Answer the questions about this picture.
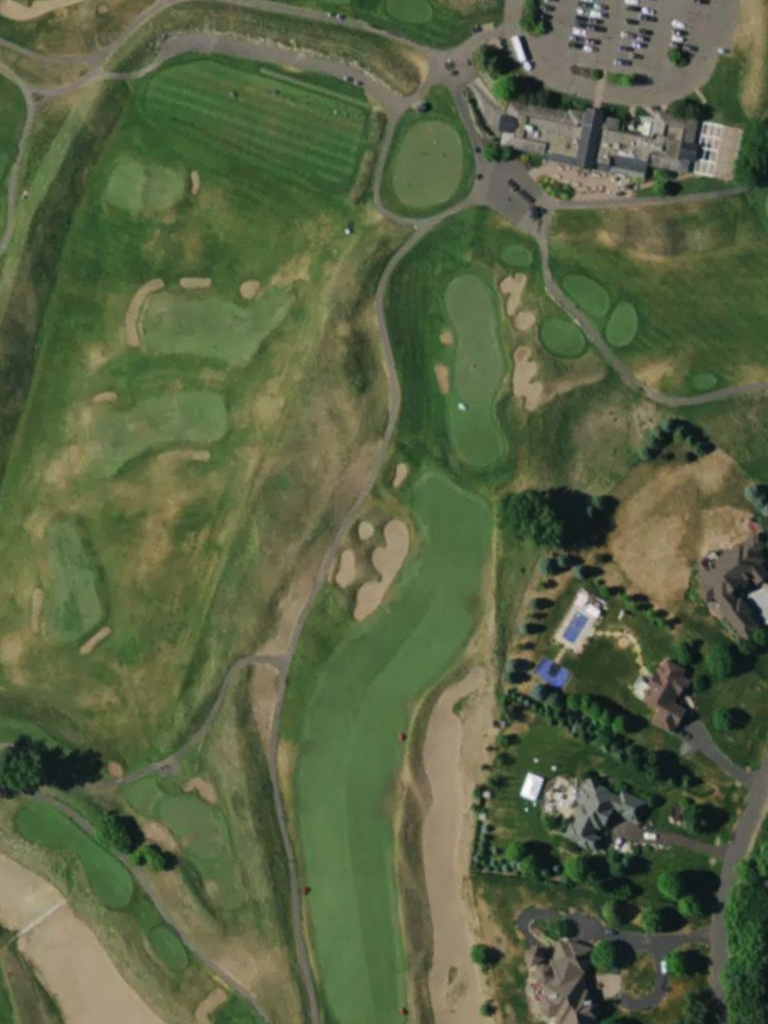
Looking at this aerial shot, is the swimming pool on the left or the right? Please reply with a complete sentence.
It is on the right.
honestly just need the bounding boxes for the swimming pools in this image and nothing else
[556,588,600,653]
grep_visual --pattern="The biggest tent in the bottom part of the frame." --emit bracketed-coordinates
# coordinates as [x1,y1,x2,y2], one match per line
[520,773,544,801]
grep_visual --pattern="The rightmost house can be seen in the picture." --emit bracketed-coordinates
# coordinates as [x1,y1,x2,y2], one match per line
[713,527,768,625]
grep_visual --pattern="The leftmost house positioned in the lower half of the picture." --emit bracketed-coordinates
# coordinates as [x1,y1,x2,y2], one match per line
[524,933,596,1024]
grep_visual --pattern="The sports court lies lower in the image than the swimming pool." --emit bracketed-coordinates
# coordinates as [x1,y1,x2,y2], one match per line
[536,656,570,688]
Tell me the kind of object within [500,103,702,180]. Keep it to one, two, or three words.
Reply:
building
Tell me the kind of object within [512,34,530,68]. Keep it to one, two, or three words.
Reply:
vehicle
